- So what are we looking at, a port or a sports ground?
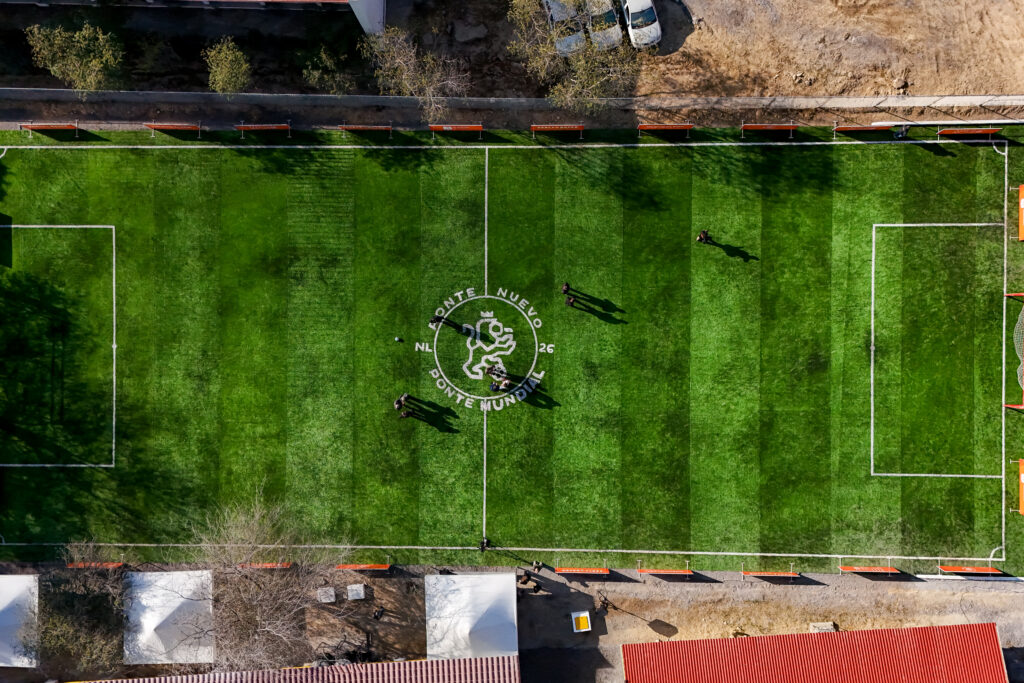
sports ground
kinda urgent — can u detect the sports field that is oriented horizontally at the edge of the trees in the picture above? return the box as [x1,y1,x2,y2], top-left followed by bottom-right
[0,124,1024,577]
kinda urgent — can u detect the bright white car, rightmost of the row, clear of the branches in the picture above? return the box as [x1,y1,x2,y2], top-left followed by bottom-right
[620,0,661,51]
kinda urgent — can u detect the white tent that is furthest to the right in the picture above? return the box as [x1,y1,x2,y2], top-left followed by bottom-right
[425,559,520,661]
